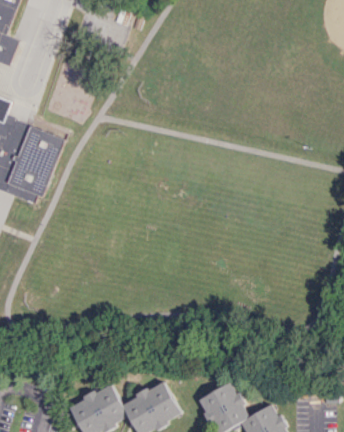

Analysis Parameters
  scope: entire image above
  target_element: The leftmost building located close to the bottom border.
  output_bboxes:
[76,385,126,432]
